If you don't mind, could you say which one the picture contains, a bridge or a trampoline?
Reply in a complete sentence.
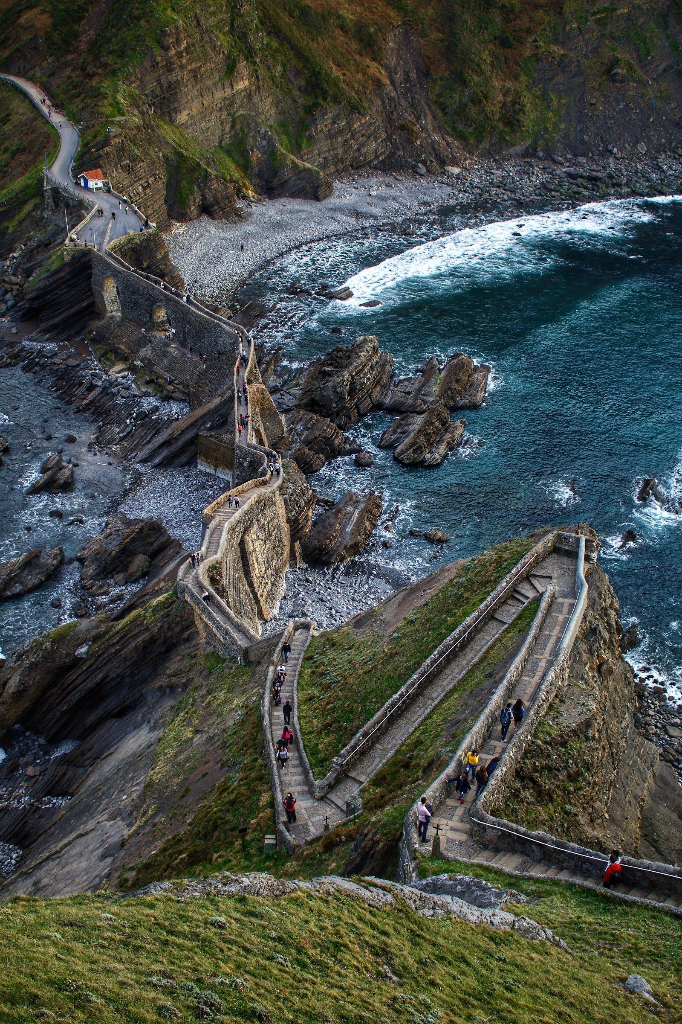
I can see a bridge in this picture.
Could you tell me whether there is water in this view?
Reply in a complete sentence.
Yes, there is water in the image.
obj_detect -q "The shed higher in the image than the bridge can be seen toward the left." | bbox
[72,171,105,193]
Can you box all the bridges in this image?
[92,249,294,458]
